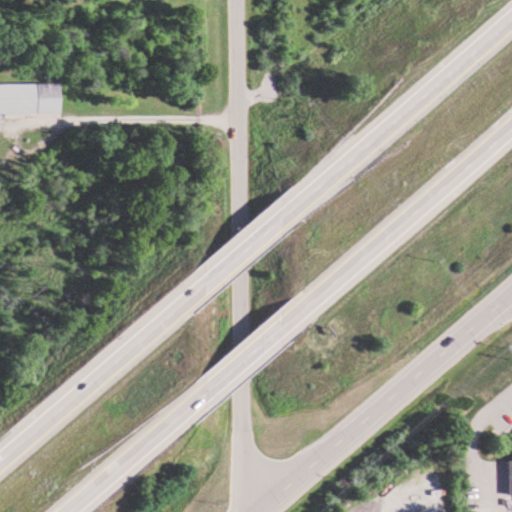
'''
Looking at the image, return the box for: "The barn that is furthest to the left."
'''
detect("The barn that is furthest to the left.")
[0,83,38,114]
